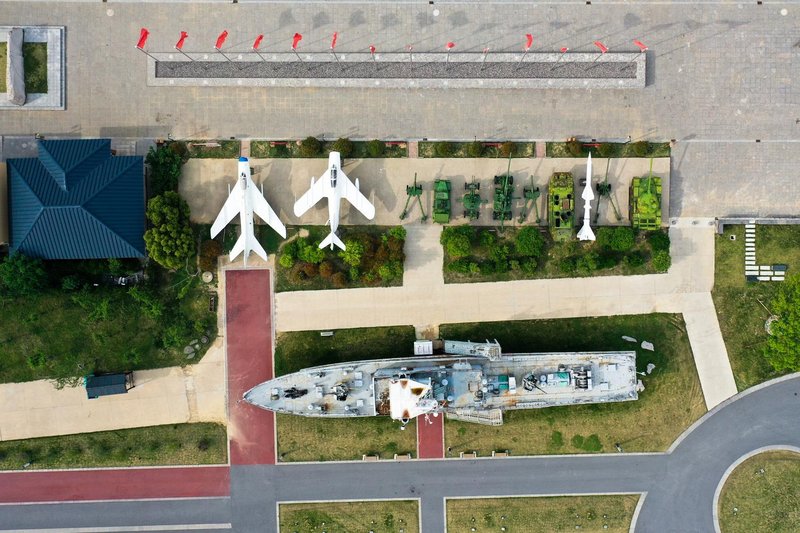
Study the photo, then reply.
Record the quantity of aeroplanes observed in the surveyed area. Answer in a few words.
2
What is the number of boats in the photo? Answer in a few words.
1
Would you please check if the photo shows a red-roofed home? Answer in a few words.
No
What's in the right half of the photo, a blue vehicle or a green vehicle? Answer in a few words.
green vehicle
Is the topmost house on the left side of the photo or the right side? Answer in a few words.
left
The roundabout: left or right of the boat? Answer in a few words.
to its right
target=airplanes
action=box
[210,154,282,264]
[295,150,375,251]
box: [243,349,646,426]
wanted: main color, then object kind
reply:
white boat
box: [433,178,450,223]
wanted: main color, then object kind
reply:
green car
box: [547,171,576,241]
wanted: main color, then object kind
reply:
green vehicle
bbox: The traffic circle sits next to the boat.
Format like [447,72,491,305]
[634,378,800,533]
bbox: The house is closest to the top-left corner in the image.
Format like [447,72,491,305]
[6,138,145,259]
